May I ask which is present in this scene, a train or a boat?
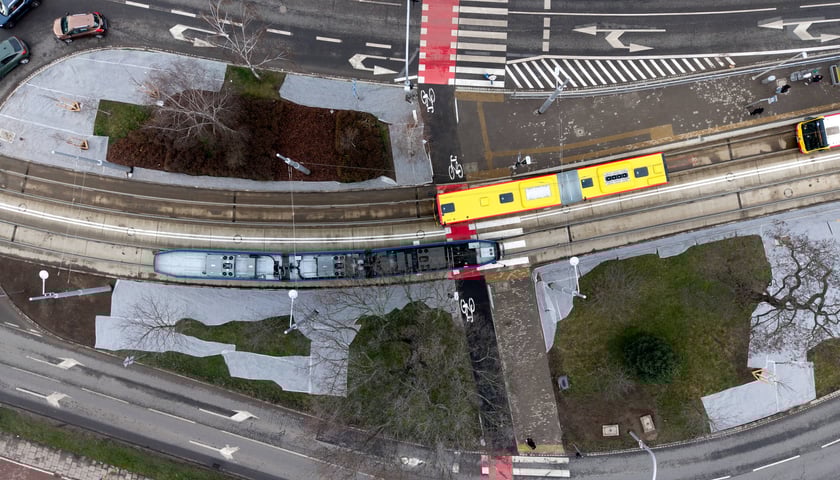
train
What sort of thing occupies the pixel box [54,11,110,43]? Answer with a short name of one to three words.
car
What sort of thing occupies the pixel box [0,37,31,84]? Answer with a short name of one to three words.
car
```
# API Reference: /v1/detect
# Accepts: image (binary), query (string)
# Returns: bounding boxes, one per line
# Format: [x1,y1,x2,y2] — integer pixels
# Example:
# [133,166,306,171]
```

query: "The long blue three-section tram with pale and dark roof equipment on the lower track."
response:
[156,237,502,280]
